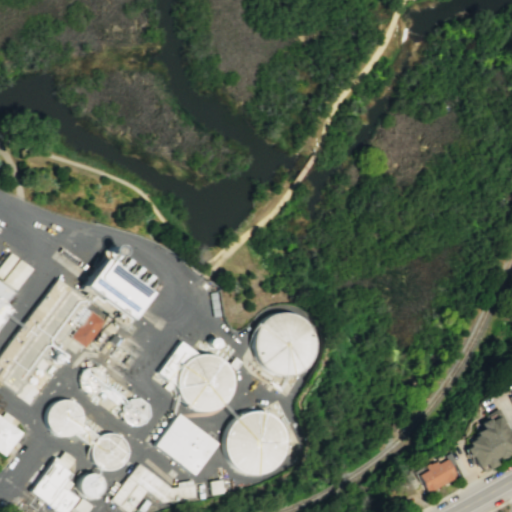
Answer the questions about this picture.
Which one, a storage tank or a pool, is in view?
storage tank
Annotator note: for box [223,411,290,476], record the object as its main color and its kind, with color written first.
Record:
white storage tank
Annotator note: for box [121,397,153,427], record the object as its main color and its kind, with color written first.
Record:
white storage tank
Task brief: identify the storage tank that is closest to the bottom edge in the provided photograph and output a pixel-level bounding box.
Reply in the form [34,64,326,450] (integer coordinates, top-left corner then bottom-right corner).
[78,472,108,500]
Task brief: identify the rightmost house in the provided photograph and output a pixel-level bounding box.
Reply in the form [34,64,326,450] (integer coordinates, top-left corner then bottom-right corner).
[468,414,512,470]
